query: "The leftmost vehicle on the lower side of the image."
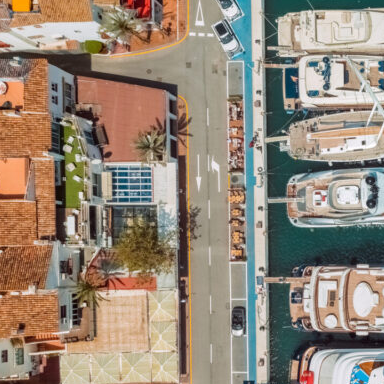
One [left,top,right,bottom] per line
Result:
[230,306,248,336]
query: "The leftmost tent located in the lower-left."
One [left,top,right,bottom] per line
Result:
[60,352,91,384]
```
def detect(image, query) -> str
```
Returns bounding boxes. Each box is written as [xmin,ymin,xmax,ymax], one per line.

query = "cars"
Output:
[218,0,243,23]
[214,21,243,59]
[230,306,248,336]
